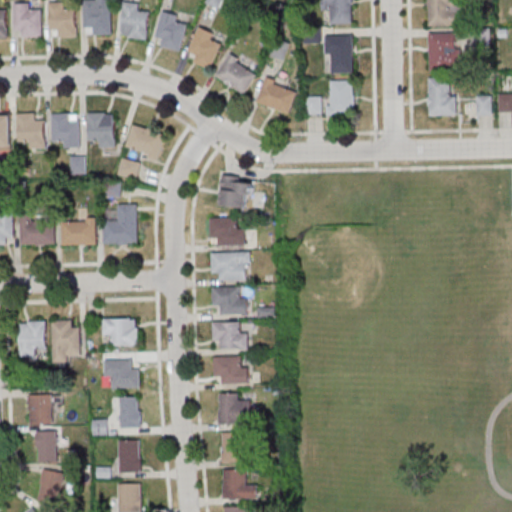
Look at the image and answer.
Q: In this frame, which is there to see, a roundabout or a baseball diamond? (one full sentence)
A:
The image shows a baseball diamond.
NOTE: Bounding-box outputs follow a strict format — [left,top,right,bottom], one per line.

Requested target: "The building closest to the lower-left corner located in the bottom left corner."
[38,468,64,504]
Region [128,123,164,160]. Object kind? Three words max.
house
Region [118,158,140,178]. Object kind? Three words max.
building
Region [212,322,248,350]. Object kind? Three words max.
house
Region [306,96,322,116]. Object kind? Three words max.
building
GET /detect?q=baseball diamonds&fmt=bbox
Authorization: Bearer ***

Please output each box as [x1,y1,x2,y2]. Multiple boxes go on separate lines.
[298,221,392,313]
